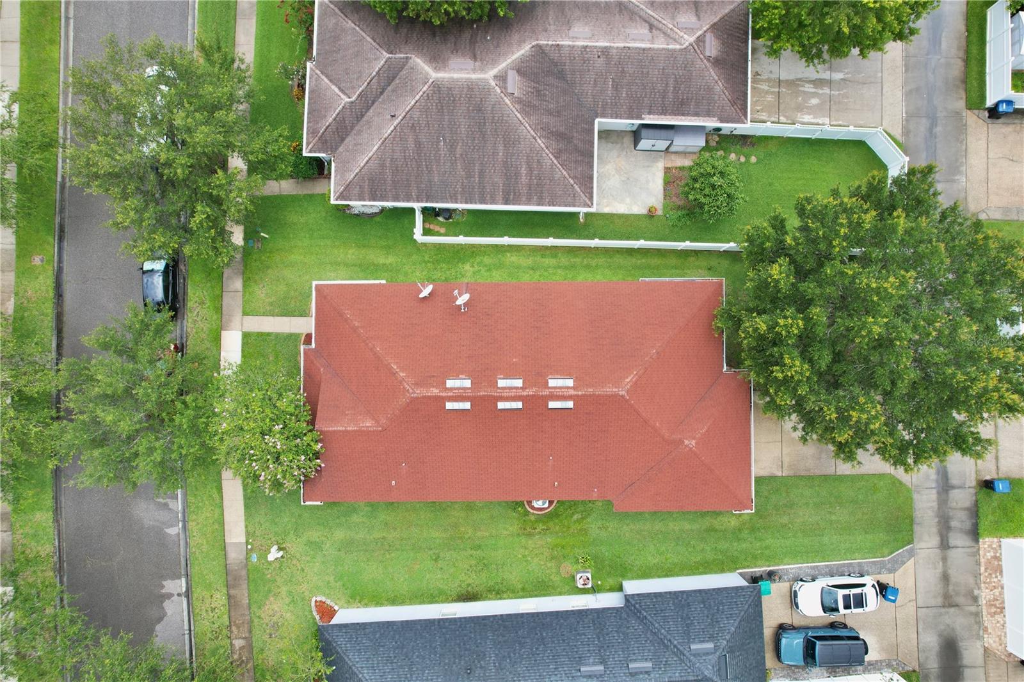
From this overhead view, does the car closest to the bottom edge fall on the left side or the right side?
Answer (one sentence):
The car closest to the bottom edge appears in the right half of the scene.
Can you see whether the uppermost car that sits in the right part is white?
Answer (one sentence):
Yes, the uppermost car that sits in the right part is indeed white.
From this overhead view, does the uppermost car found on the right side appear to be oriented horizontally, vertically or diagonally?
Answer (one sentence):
From this overhead view, the uppermost car found on the right side appears to run horizontally.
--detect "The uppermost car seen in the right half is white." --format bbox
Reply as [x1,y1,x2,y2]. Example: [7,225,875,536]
[790,574,881,621]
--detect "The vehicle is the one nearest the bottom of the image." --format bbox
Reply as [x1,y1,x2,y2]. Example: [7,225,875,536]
[773,623,870,670]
